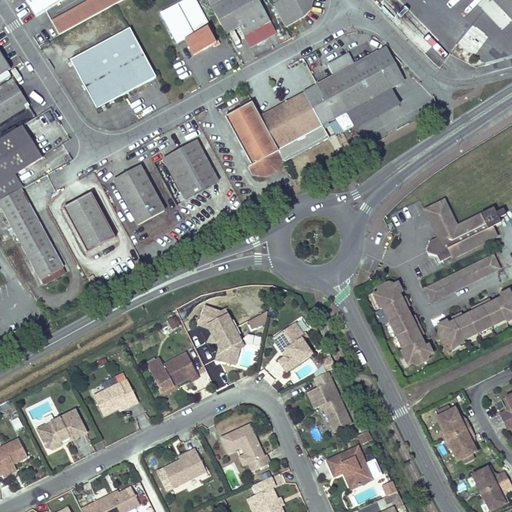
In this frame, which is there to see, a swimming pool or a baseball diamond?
swimming pool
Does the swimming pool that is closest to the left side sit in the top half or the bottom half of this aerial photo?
bottom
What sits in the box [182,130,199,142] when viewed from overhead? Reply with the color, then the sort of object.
white vehicle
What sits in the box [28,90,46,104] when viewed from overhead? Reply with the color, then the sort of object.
white vehicle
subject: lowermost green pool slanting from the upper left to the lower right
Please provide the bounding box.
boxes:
[225,468,242,490]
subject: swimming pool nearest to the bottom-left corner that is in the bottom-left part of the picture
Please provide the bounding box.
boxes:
[28,400,53,420]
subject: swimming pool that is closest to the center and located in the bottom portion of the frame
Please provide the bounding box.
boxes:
[240,350,256,368]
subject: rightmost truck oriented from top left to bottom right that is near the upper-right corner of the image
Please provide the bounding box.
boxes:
[424,32,448,58]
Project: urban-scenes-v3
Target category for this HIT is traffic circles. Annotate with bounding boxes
[291,216,341,266]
